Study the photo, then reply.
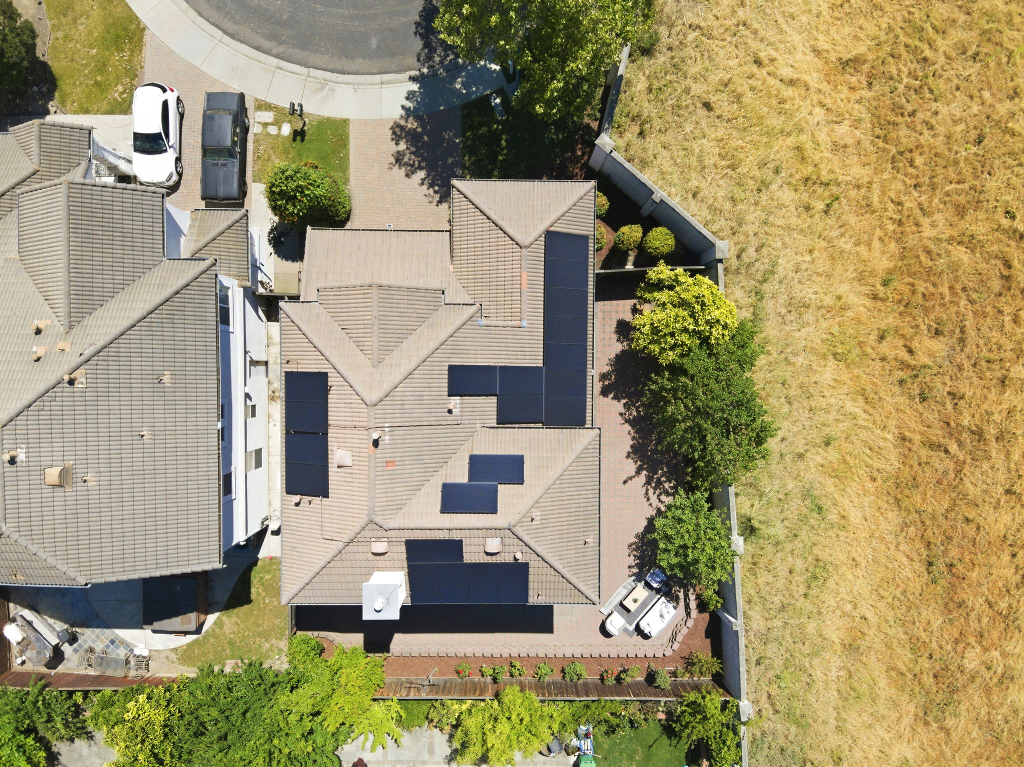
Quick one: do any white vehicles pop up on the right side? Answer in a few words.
No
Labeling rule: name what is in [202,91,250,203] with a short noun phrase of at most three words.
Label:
car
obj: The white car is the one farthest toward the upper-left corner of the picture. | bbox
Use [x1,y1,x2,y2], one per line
[129,84,188,190]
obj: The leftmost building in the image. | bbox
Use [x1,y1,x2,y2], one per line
[0,121,272,587]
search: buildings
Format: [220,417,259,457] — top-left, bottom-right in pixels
[279,180,601,619]
[0,121,272,587]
